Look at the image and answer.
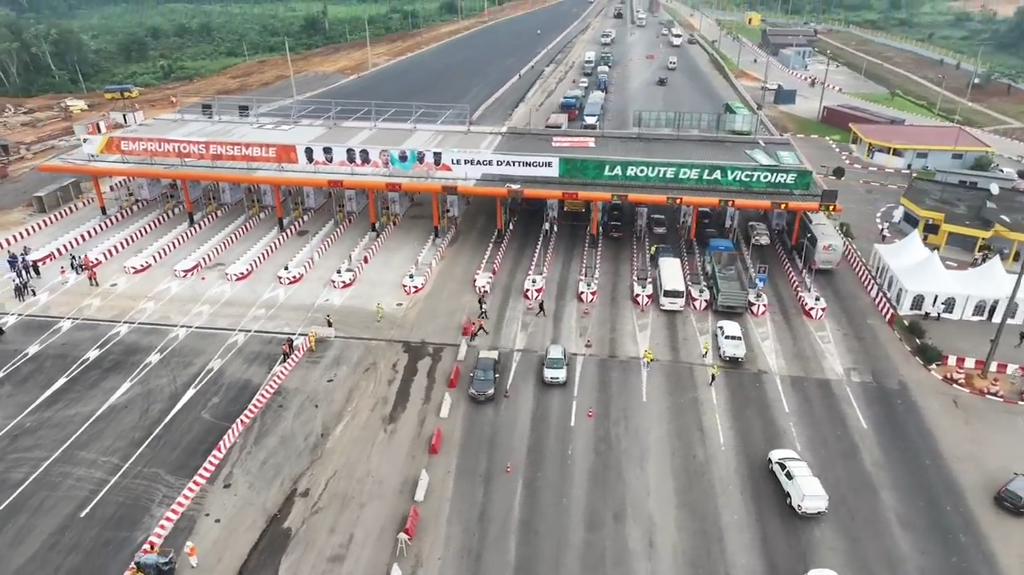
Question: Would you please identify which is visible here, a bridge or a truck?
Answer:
truck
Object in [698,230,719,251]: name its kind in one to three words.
car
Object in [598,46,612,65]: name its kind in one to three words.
vehicle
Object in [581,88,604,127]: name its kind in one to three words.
truck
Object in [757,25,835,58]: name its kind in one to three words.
shed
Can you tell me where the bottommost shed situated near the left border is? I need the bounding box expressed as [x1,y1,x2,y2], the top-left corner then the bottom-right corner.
[19,175,88,217]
